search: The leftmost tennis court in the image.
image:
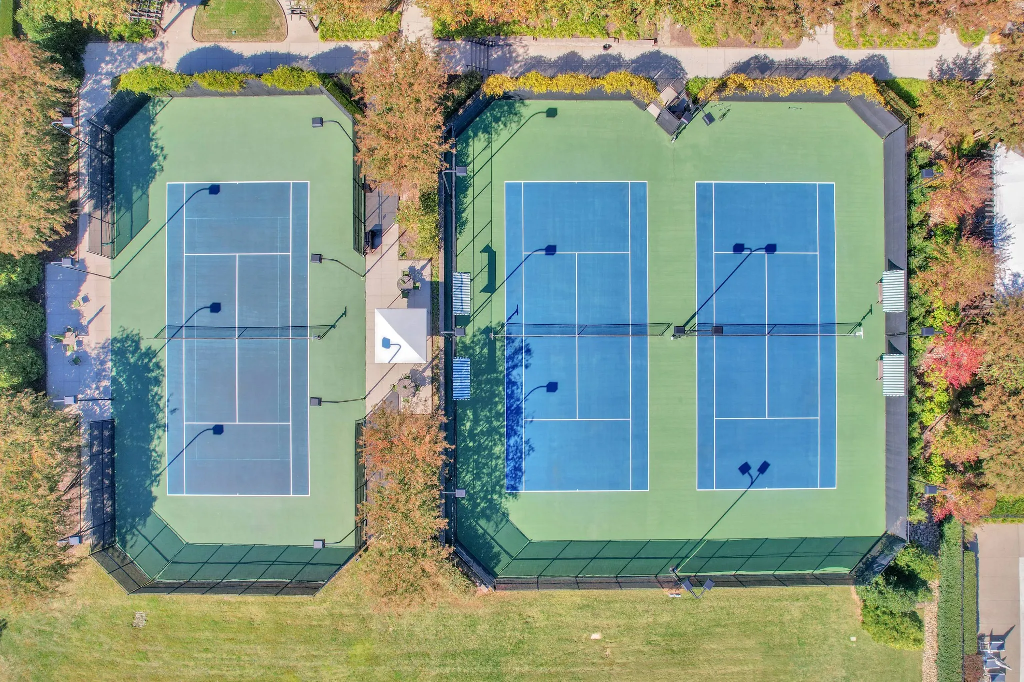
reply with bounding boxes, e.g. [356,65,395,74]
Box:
[110,95,366,581]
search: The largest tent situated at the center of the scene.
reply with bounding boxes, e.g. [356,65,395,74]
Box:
[375,308,431,363]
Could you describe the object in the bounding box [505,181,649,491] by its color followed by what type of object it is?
blue tennis court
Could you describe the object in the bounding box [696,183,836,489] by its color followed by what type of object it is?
blue tennis court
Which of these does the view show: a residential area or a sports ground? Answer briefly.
sports ground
